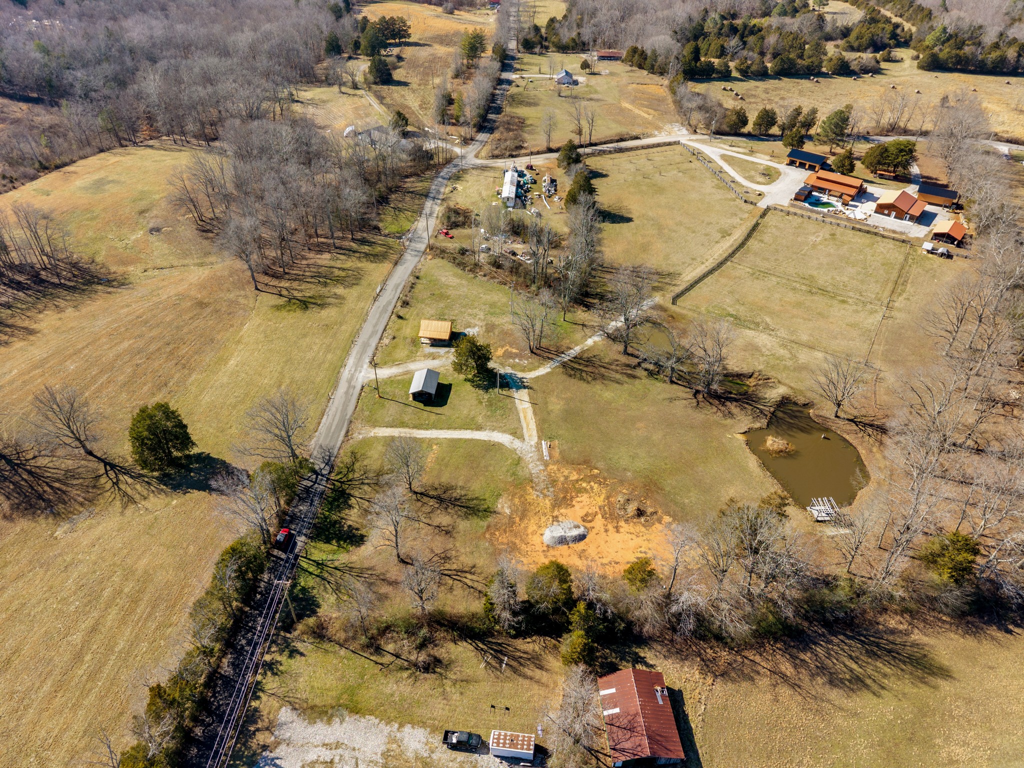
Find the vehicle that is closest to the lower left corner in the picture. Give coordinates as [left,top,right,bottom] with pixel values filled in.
[274,526,290,547]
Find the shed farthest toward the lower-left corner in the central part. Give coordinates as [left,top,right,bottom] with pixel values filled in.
[410,369,440,403]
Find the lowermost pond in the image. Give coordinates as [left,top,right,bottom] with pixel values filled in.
[742,402,870,510]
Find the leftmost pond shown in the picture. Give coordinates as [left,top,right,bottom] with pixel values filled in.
[629,323,749,390]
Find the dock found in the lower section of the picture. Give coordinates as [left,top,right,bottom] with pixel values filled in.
[803,495,838,526]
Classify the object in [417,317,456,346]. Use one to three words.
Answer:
building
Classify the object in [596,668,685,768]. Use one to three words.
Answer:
barn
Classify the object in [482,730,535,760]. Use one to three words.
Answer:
trailer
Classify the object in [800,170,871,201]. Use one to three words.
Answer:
house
